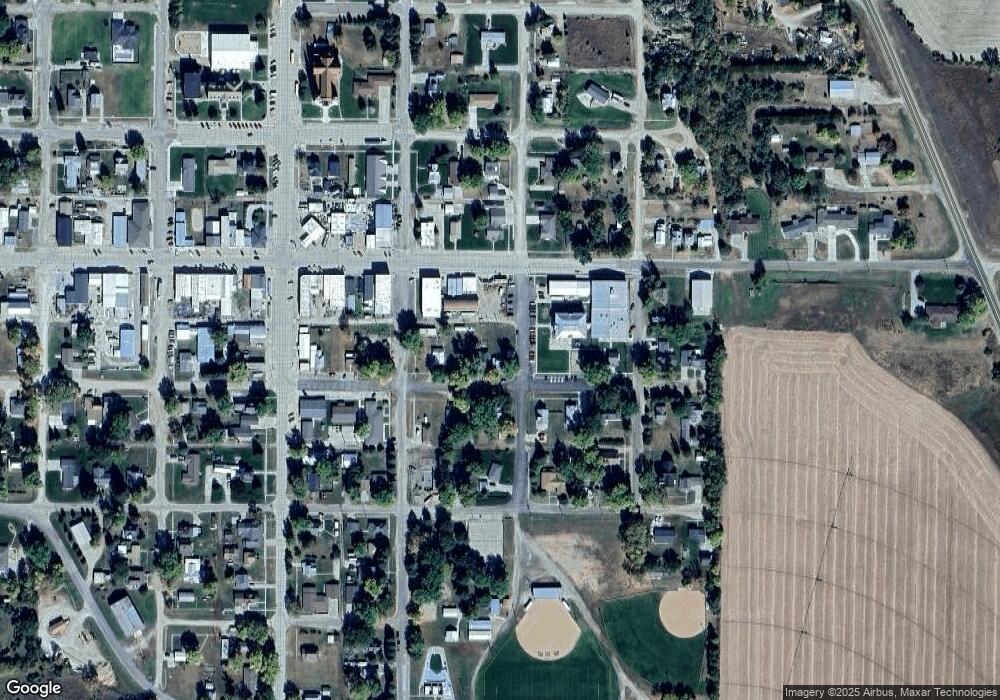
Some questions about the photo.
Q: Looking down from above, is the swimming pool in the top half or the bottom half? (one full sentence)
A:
It is in the bottom half that the swimming pool appears.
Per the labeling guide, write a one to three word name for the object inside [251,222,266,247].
house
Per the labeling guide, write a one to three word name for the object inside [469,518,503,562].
sports court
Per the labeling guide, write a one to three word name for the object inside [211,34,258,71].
building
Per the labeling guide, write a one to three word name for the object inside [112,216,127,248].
barn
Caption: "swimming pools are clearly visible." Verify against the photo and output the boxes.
[418,646,455,700]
